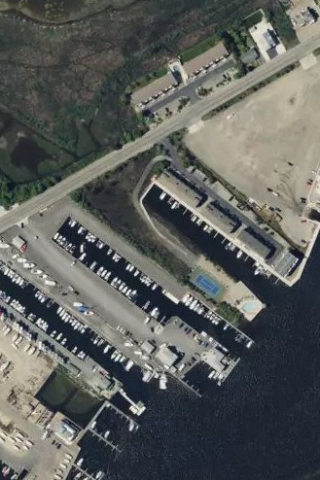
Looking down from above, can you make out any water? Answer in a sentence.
Yes, there is water in the image.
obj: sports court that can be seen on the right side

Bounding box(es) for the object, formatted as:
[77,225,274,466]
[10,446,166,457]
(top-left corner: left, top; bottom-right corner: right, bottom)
[189,270,225,303]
